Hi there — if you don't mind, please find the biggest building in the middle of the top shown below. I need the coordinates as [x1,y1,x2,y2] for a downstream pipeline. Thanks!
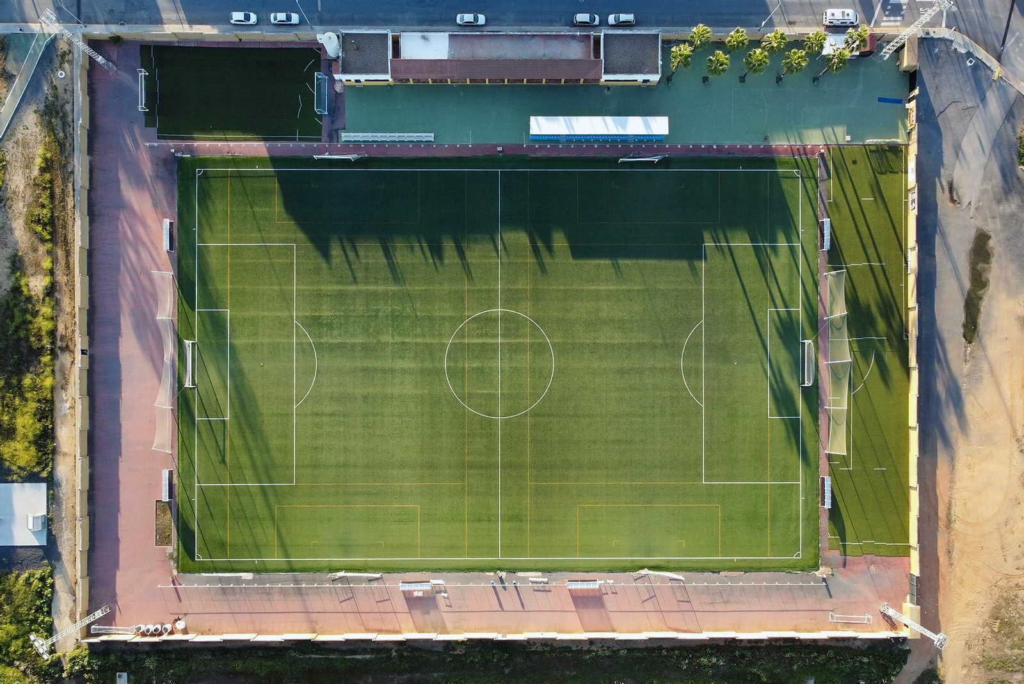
[339,30,662,89]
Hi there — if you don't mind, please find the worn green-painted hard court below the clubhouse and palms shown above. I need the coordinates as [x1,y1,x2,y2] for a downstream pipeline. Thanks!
[339,40,909,145]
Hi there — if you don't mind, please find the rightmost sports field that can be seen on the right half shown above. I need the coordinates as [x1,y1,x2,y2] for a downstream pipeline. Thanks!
[828,145,910,556]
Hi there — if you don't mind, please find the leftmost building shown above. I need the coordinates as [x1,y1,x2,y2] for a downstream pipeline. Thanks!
[0,483,50,546]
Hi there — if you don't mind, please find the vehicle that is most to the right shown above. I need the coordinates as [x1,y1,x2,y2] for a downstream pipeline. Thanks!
[821,8,858,28]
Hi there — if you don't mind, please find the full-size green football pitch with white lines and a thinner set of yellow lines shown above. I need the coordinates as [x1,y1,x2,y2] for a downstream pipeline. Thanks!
[178,157,820,573]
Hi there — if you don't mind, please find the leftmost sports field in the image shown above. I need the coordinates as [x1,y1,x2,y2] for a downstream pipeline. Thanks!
[140,45,322,140]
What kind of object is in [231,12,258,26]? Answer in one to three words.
car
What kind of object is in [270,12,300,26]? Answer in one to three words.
car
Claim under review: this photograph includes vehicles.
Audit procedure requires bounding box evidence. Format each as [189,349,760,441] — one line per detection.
[608,13,635,28]
[821,8,858,28]
[456,13,485,27]
[574,13,599,27]
[231,12,258,26]
[270,12,300,26]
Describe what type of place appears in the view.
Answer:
sports ground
